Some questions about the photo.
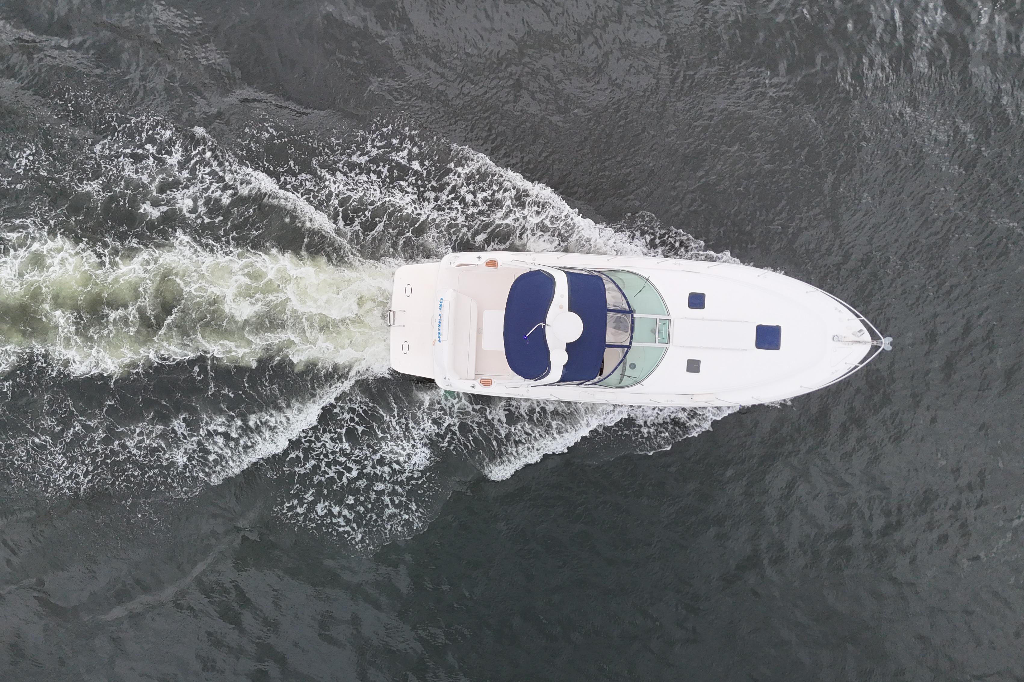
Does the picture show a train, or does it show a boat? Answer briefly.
boat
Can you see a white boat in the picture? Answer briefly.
Yes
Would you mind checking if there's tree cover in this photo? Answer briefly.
No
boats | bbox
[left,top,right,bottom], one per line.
[387,250,885,407]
